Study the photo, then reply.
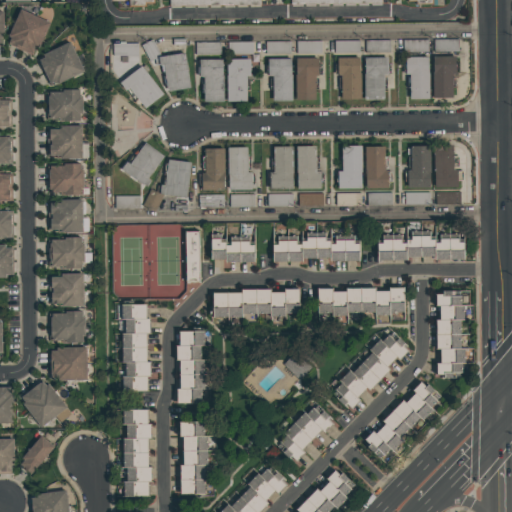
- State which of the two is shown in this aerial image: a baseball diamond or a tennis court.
tennis court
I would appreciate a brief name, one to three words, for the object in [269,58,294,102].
building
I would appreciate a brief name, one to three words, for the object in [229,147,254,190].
building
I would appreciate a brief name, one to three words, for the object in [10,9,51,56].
house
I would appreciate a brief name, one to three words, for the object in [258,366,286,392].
swimming pool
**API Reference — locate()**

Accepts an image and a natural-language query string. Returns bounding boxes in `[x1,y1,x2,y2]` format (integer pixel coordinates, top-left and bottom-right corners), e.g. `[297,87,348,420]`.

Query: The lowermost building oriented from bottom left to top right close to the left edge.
[22,436,55,474]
